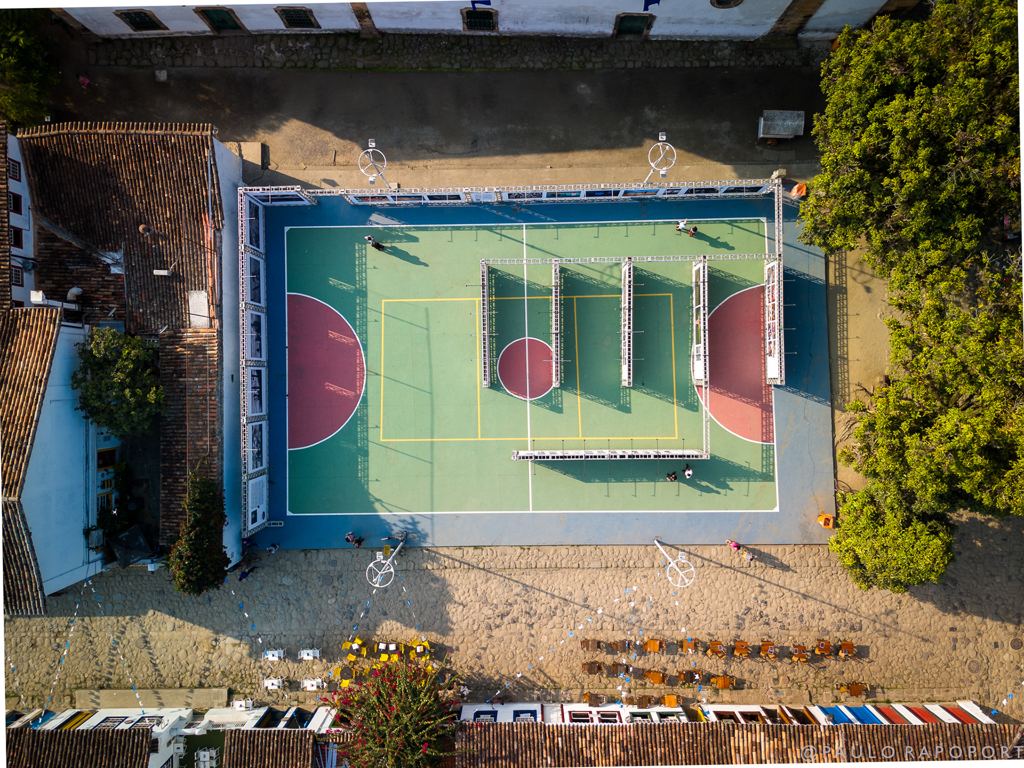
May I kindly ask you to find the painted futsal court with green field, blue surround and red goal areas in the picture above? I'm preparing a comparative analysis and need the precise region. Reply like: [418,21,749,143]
[240,185,835,550]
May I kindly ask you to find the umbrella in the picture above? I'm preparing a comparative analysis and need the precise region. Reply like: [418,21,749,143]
[109,524,155,569]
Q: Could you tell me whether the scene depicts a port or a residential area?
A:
residential area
